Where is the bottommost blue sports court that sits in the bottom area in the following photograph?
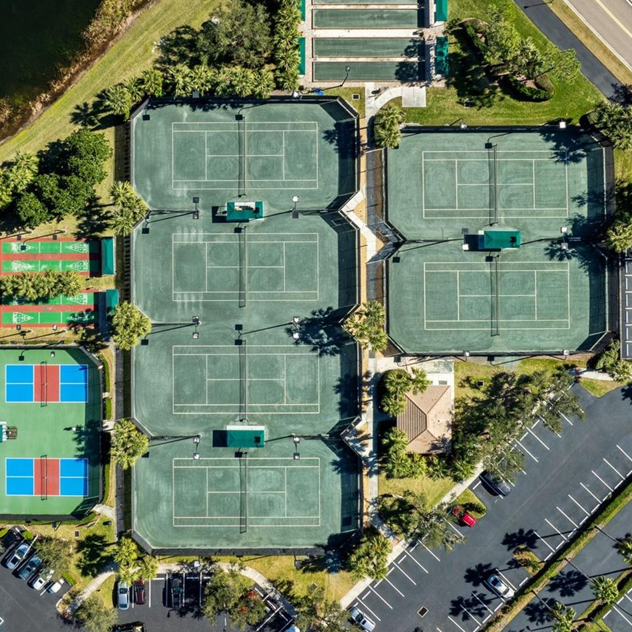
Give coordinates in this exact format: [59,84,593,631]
[5,455,87,500]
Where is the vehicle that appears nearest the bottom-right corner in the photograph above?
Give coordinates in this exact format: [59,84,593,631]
[486,573,514,600]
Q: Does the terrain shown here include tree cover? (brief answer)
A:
Yes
